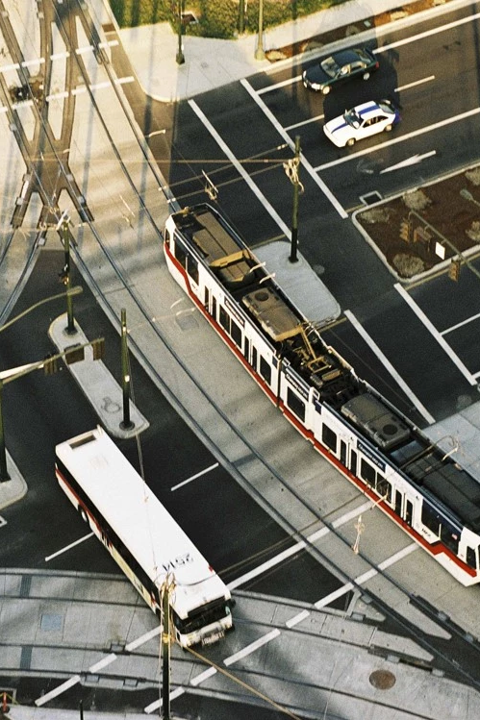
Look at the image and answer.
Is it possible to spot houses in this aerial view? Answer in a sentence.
No, no house can be seen from above.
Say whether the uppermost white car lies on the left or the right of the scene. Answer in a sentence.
It is on the right.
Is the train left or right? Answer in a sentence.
It is on the right.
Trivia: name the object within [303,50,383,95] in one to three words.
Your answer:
car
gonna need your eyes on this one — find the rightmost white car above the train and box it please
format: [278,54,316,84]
[321,104,401,151]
